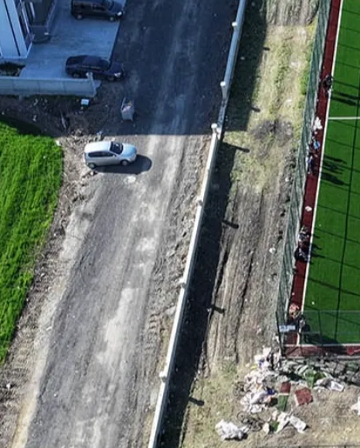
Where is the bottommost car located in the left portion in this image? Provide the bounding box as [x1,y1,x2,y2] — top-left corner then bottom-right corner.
[83,136,138,165]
